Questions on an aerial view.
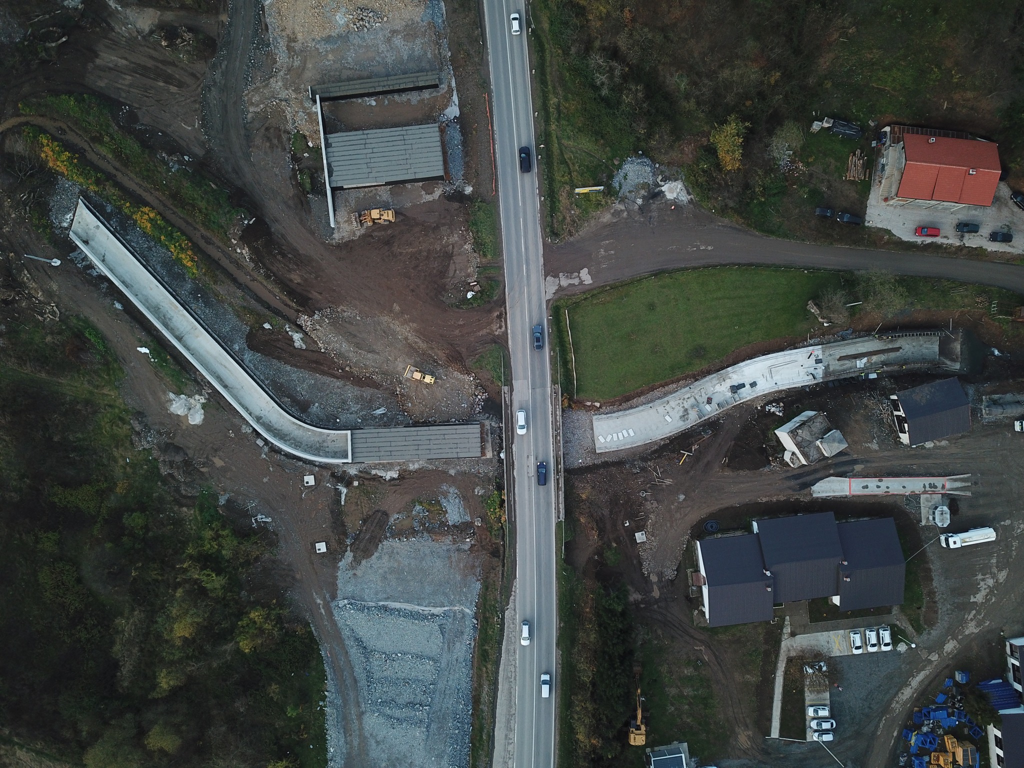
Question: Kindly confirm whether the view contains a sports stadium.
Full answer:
No, the frame has no sports stadium in it.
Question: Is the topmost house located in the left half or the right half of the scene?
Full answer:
The topmost house appears in the right half of the scene.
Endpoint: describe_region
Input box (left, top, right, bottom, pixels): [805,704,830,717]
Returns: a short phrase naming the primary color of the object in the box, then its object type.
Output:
white vehicle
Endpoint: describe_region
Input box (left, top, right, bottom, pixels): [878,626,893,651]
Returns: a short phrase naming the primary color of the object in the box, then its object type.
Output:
white car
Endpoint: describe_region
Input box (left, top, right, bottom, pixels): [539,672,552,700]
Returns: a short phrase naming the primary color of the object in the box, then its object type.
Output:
white vehicle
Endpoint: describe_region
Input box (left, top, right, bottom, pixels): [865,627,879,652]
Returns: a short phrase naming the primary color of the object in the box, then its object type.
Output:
white car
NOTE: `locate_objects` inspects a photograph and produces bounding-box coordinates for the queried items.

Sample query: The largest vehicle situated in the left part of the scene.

[349,206,396,227]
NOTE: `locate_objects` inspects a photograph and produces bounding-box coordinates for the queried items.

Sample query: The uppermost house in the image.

[866,126,1002,218]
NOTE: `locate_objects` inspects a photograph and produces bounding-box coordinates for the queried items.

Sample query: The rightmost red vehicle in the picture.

[914,225,940,238]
